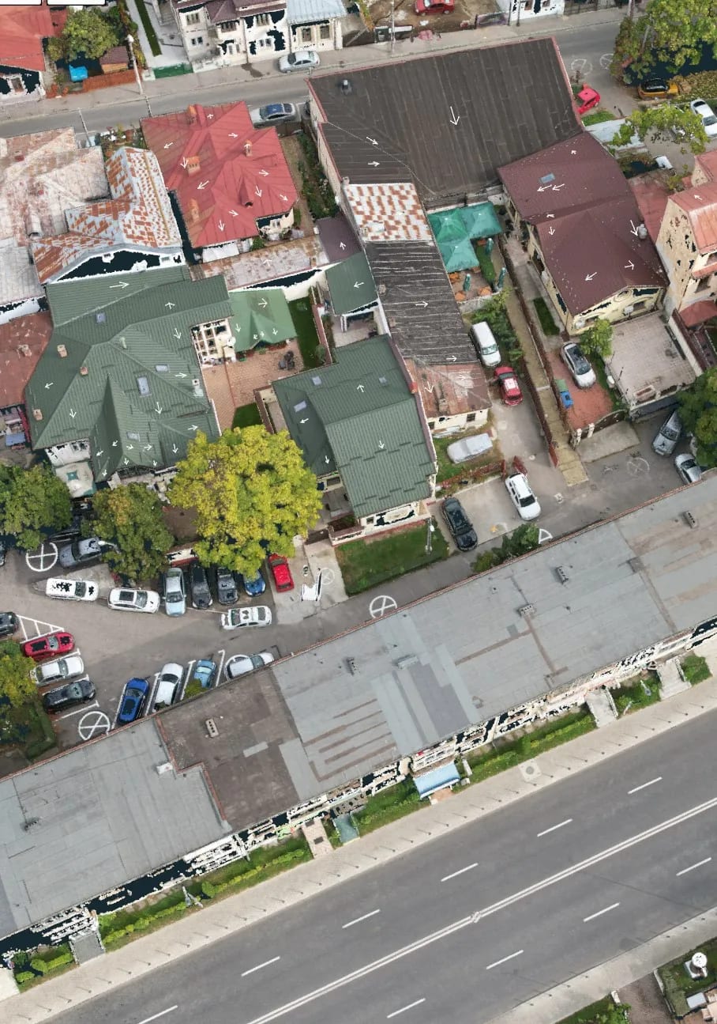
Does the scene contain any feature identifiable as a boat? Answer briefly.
No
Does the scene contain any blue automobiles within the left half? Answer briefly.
Yes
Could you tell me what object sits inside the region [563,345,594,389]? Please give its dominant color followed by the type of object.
gray car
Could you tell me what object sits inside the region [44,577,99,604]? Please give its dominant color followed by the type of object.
white car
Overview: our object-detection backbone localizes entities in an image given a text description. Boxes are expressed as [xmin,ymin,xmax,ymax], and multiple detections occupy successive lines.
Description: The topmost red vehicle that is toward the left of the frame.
[270,554,293,594]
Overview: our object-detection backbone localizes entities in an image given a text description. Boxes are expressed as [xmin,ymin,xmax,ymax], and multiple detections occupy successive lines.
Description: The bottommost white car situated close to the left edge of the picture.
[32,655,86,686]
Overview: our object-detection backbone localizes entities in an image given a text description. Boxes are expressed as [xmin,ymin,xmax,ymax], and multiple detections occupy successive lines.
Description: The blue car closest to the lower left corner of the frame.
[116,677,149,727]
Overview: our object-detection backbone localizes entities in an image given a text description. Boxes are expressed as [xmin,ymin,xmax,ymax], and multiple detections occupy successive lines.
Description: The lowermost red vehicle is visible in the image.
[20,630,76,662]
